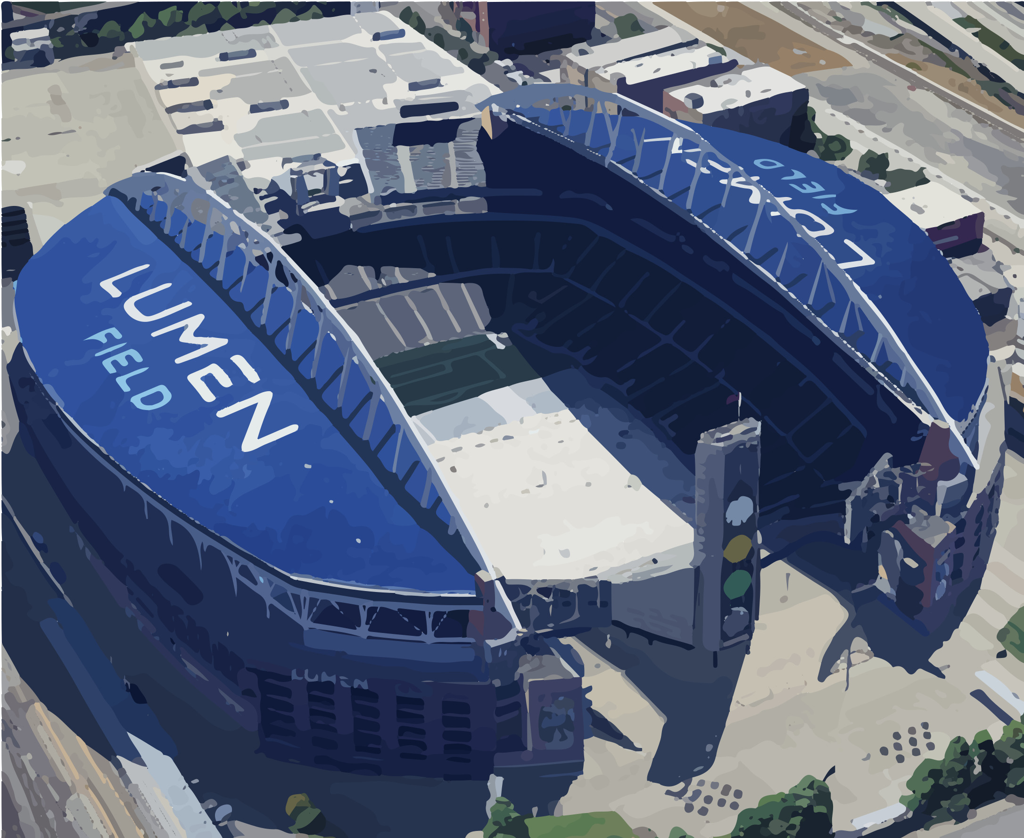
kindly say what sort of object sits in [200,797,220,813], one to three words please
car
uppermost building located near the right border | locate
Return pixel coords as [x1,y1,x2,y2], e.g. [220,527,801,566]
[875,178,975,249]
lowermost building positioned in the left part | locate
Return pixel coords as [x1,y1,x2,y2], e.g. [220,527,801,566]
[0,201,47,272]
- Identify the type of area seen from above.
sports ground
